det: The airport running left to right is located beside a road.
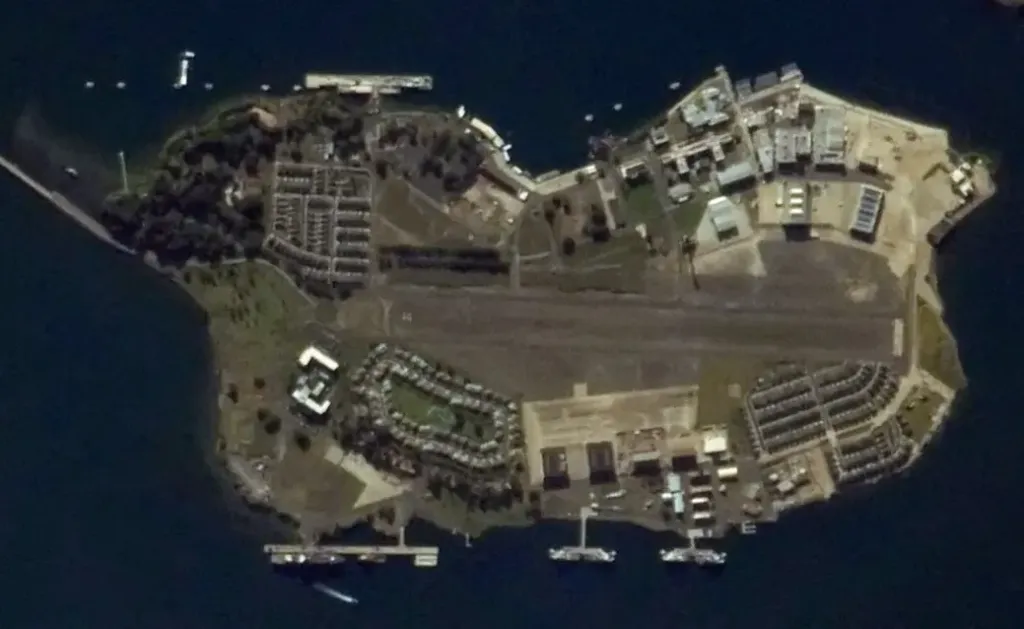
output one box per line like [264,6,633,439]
[388,242,906,360]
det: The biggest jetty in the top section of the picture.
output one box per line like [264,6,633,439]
[305,74,433,113]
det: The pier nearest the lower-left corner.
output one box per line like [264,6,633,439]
[264,526,437,566]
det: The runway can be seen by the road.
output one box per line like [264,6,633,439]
[388,292,904,360]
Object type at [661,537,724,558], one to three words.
pier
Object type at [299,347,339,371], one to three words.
building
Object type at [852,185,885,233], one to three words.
hangar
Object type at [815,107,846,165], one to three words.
building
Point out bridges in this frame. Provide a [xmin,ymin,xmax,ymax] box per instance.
[0,156,138,255]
